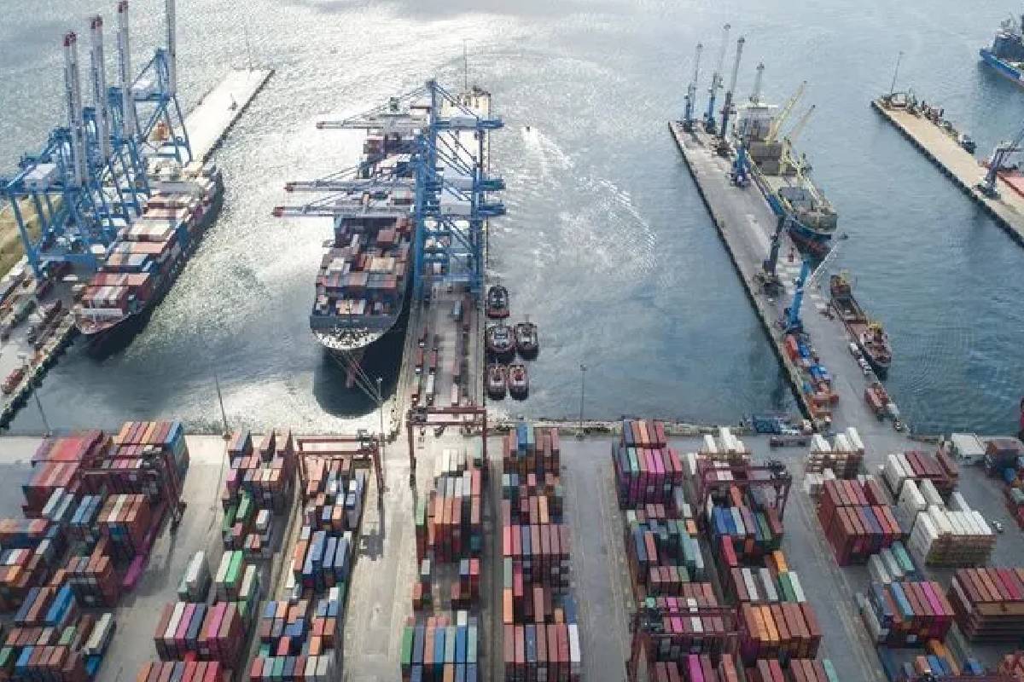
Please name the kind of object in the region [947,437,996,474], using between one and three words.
building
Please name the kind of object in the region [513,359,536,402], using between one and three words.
boat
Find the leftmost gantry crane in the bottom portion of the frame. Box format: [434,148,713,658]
[64,454,185,536]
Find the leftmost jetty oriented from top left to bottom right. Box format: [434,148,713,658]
[669,123,907,430]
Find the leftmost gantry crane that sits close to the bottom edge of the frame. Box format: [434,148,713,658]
[631,617,753,682]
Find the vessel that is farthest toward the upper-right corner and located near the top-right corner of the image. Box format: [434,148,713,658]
[979,35,1024,94]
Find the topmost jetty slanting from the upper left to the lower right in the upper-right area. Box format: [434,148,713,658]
[870,95,1024,261]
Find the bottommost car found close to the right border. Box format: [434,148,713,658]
[991,520,1006,532]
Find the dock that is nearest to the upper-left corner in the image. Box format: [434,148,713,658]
[0,69,274,434]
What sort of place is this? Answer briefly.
port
